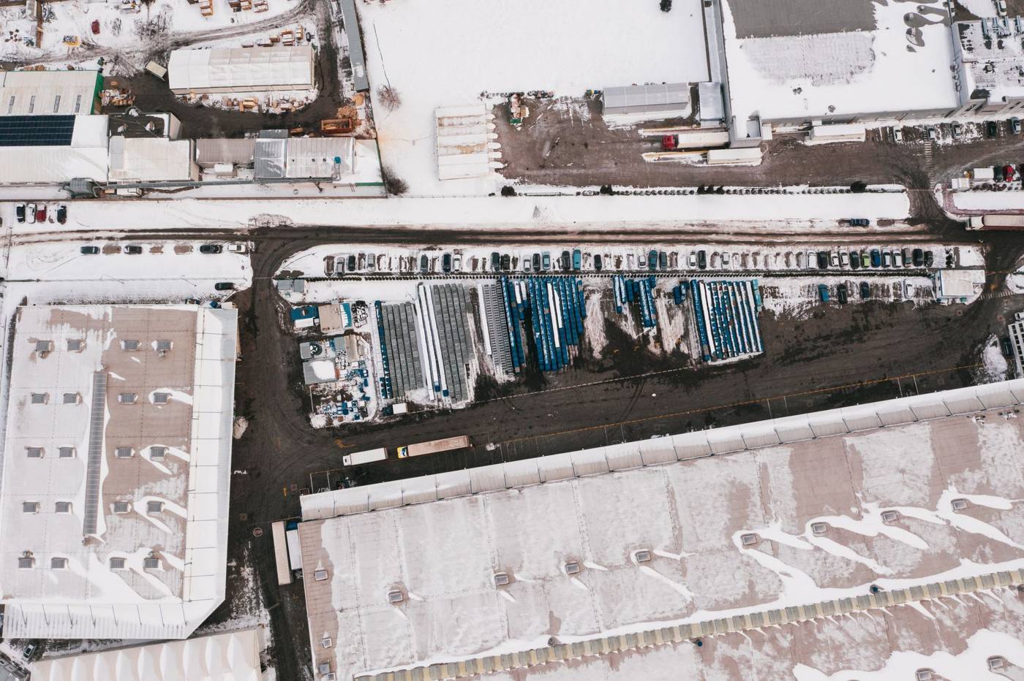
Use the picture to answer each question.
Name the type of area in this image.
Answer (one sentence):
This looks like an industrial area.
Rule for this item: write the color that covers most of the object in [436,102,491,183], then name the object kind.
white tent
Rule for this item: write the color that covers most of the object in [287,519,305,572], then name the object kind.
white vehicle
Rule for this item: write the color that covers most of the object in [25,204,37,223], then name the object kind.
white vehicle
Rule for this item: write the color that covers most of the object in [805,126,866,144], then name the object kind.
white trailer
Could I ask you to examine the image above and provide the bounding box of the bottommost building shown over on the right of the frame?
[299,380,1024,681]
